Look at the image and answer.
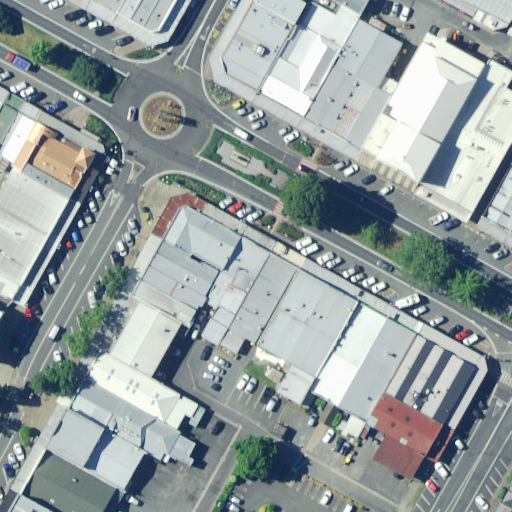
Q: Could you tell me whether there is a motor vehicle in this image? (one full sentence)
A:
Yes, looking at the shot, I can spot a motor vehicle.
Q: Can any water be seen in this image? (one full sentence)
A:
No, there is no water in the image.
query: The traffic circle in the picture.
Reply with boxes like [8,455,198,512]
[140,92,186,139]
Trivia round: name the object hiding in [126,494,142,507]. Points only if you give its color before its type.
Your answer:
white vehicle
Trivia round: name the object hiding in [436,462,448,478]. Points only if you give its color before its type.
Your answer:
white vehicle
